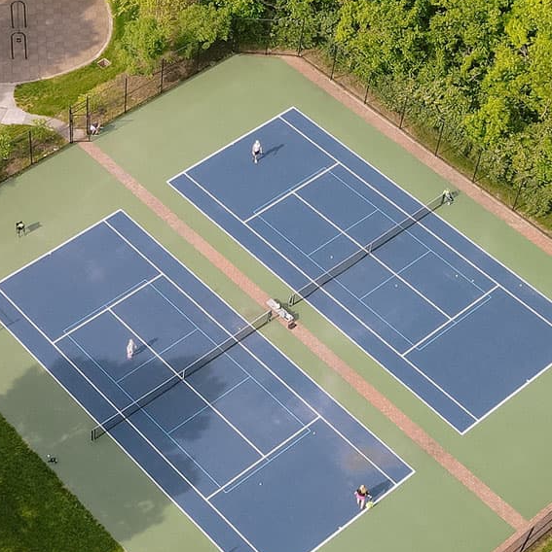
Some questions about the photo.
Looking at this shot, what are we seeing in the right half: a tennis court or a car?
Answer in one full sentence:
The feature located in the right half is a tennis court.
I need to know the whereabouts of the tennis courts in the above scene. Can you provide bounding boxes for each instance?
[0,210,413,552]
[169,107,552,433]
